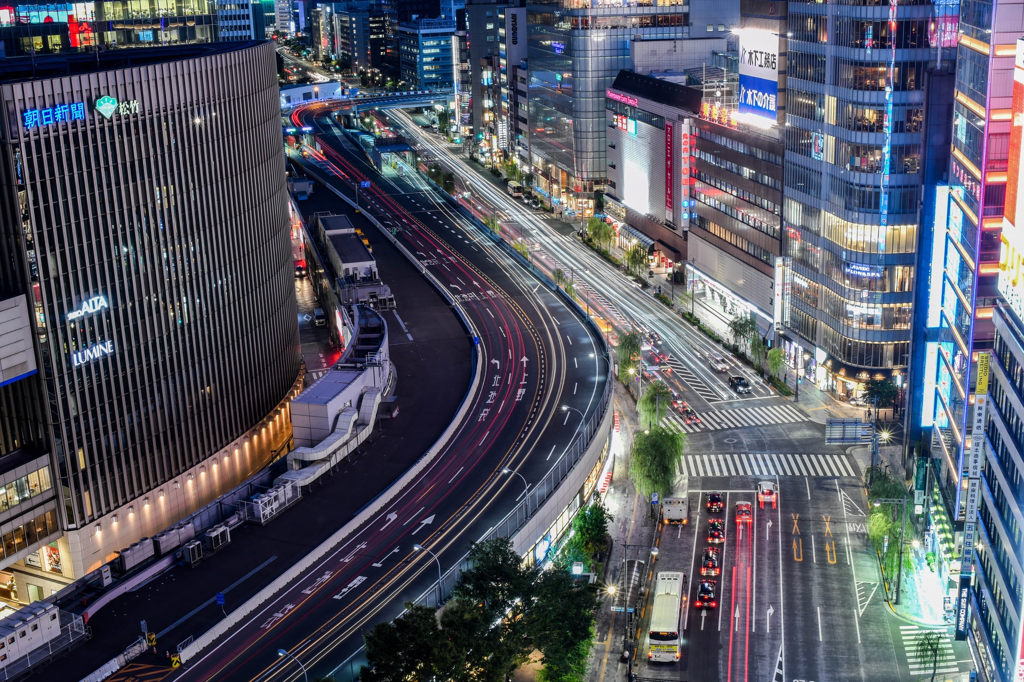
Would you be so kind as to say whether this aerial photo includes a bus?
Yes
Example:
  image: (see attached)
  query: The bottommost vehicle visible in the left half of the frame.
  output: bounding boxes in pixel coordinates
[313,307,326,325]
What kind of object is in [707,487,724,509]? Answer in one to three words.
car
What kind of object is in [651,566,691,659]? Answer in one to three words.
bus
